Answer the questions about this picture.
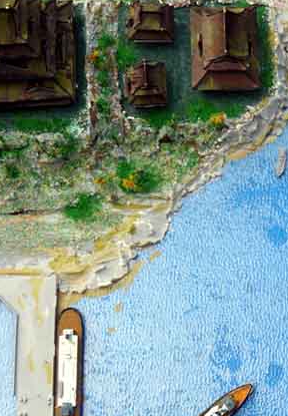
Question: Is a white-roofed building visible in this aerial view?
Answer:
No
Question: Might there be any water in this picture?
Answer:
Yes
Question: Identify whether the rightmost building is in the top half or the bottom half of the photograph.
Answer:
top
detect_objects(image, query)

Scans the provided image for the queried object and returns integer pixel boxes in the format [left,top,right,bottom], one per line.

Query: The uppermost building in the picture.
[127,0,176,46]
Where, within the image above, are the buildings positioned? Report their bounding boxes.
[121,54,169,110]
[127,0,176,46]
[190,0,263,96]
[0,0,74,107]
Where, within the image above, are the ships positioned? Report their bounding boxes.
[55,308,86,416]
[199,385,252,416]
